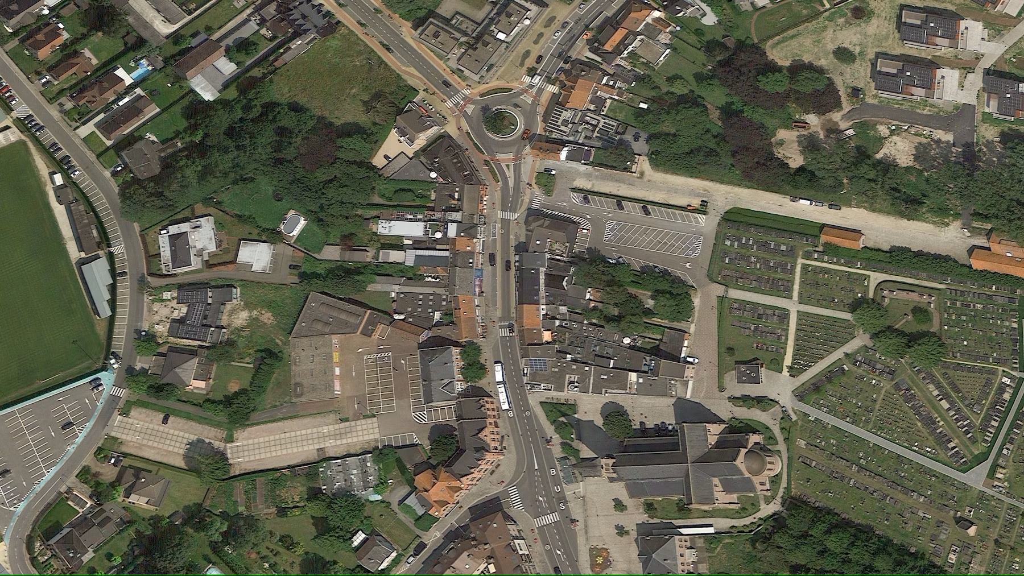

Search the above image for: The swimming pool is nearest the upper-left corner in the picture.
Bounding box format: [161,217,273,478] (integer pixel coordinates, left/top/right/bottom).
[131,65,156,81]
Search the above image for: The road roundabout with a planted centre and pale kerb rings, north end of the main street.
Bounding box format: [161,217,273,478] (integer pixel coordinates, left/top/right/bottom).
[462,85,540,156]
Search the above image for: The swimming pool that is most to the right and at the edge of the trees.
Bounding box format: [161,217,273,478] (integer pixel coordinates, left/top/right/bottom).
[278,210,309,242]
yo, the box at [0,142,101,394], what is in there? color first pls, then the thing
green soccer field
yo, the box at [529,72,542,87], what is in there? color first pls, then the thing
white vehicle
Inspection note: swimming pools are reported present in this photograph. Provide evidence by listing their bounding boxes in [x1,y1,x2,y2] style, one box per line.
[199,564,226,576]
[278,210,309,242]
[131,65,156,81]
